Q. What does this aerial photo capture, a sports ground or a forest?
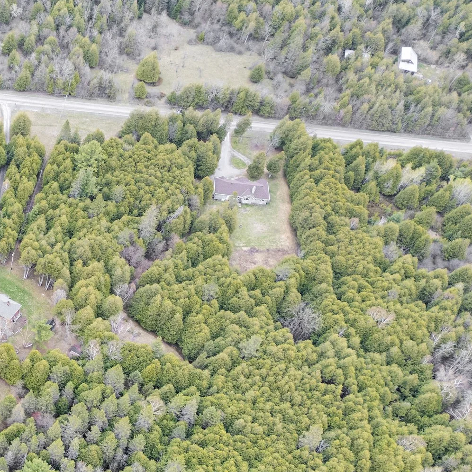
forest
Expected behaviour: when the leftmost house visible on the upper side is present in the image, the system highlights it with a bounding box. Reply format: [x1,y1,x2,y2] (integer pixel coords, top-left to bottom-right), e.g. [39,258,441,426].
[211,172,271,205]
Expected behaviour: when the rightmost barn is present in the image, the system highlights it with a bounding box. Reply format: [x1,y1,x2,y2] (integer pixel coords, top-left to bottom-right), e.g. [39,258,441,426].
[399,47,418,74]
